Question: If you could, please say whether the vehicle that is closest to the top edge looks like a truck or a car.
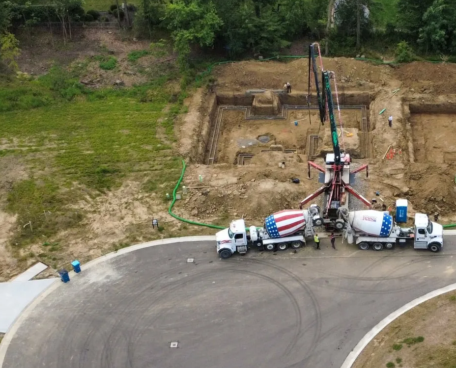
truck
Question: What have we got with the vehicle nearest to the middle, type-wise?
truck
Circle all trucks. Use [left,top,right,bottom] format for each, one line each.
[299,43,374,223]
[213,205,322,259]
[336,207,446,253]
